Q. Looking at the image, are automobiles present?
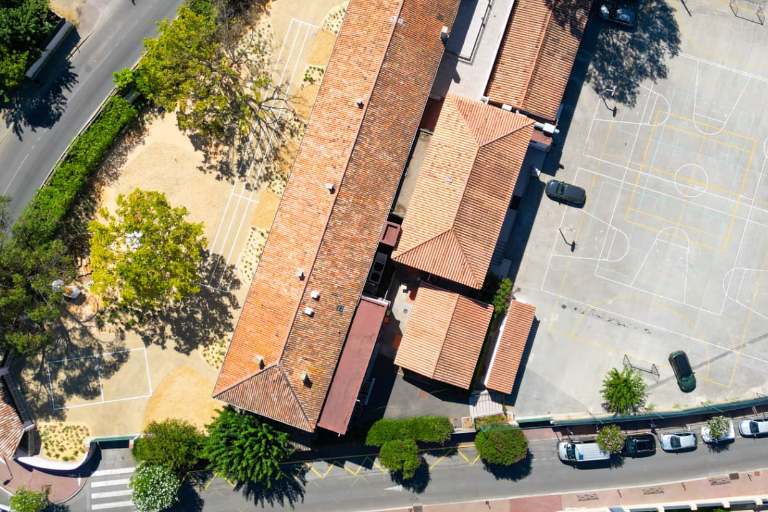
Yes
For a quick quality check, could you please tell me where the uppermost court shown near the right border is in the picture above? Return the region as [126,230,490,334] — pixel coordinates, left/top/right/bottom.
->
[478,0,768,422]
